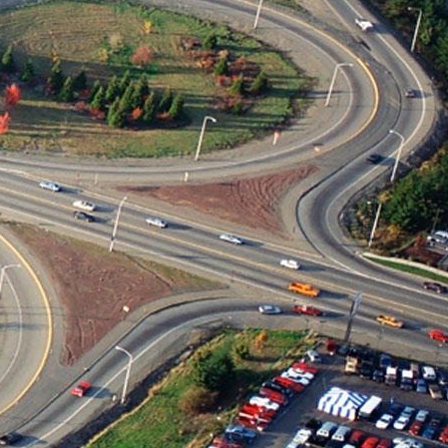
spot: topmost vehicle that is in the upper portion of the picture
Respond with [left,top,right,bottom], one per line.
[356,18,372,32]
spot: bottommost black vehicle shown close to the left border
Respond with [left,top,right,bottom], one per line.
[0,431,24,448]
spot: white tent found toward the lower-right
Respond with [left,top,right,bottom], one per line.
[315,383,369,422]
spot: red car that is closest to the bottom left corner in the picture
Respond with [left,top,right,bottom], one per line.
[71,380,92,397]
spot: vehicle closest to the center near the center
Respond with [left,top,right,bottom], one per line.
[219,232,242,245]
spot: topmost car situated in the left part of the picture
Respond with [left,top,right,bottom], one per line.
[37,181,62,193]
